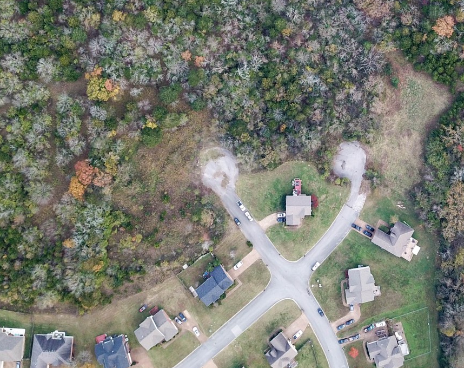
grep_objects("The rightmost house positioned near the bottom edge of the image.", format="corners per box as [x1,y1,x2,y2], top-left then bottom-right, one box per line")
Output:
[368,332,409,368]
